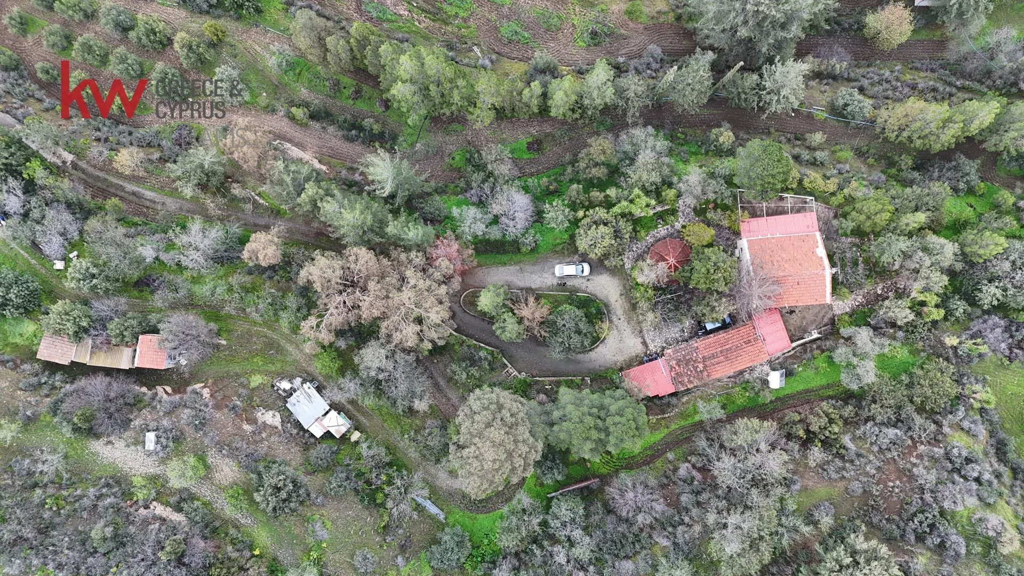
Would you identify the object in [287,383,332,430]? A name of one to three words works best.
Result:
shed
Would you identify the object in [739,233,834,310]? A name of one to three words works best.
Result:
house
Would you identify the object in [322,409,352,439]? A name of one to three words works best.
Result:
shed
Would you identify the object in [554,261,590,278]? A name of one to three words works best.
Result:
car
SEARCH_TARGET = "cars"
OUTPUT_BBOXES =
[695,314,733,336]
[554,261,590,278]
